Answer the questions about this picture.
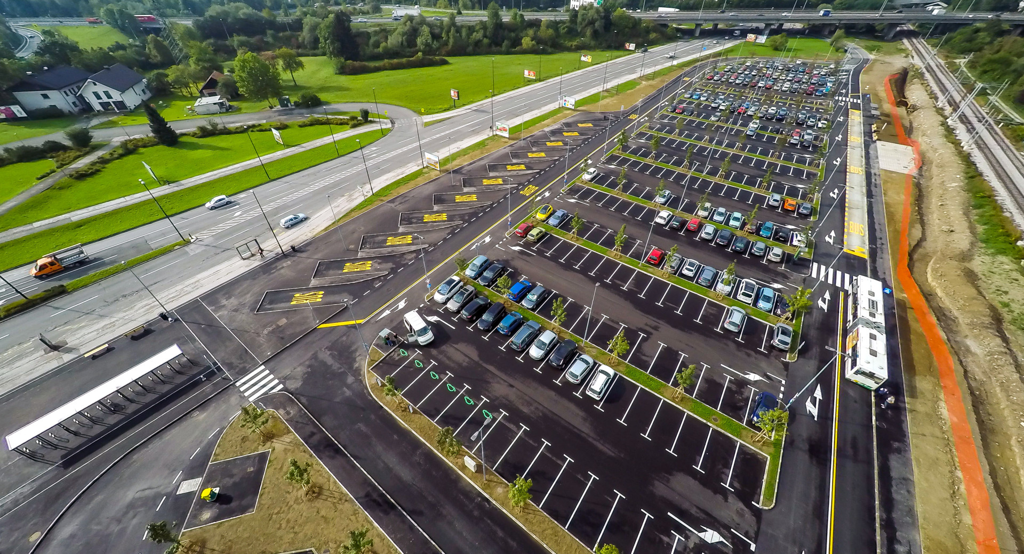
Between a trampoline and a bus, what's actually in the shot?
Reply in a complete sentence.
The image shows a bus.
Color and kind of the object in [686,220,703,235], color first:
red car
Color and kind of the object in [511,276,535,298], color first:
blue car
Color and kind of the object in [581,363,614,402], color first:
white car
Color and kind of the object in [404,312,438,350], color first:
white van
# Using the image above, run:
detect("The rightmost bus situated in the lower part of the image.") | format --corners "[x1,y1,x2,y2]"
[841,275,888,394]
